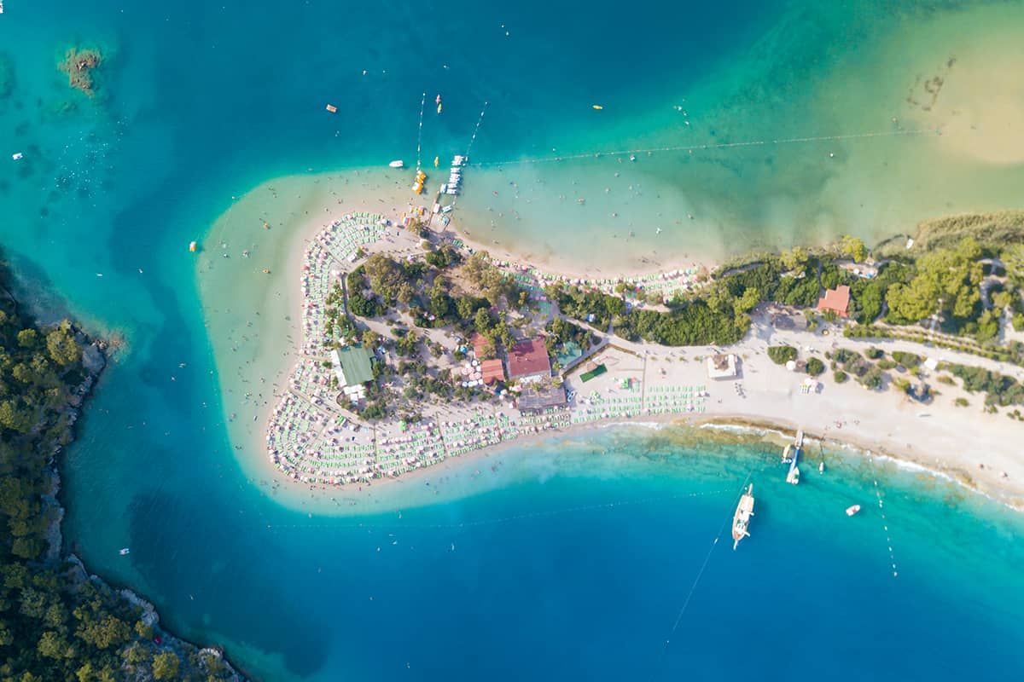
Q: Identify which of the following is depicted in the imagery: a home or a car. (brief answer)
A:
home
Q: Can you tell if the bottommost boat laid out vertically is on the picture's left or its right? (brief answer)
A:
right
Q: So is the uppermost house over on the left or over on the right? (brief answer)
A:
right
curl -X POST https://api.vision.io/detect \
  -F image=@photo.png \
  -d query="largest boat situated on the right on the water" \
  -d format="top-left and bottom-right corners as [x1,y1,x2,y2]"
[734,486,757,554]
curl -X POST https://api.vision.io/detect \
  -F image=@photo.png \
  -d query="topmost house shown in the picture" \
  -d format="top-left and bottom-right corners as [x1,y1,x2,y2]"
[815,284,848,316]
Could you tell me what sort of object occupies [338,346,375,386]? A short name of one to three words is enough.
building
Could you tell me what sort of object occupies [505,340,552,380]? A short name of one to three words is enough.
building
